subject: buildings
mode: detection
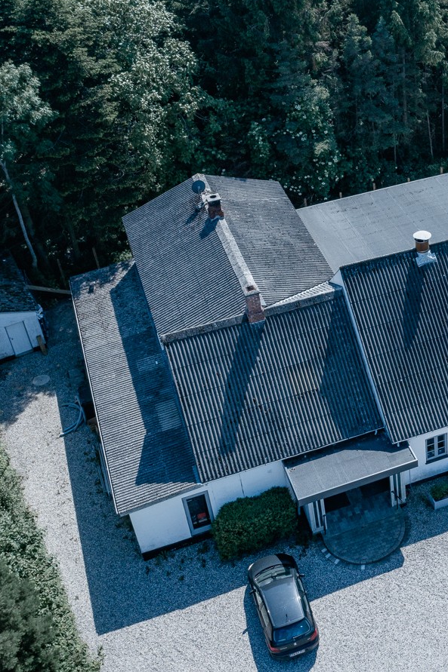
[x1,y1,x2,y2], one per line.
[66,171,448,558]
[0,246,47,357]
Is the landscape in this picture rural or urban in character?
urban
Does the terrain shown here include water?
No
